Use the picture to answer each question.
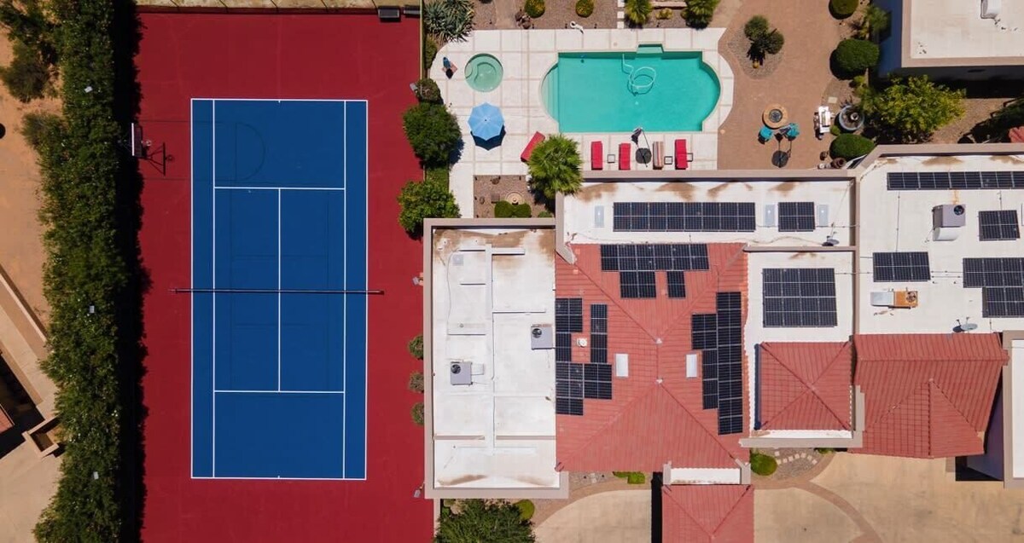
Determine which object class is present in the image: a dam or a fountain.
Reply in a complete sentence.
Visible in the photo is a fountain.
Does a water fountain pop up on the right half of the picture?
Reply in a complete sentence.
Yes, the scene does show a water fountain on the right half of the picture.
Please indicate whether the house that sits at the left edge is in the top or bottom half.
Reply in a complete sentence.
The house that sits at the left edge is in the bottom half of the image.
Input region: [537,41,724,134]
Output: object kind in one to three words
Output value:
swimming pool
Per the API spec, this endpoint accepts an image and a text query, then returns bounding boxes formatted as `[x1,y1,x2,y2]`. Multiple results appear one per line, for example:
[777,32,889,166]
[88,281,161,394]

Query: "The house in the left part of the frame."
[0,361,43,449]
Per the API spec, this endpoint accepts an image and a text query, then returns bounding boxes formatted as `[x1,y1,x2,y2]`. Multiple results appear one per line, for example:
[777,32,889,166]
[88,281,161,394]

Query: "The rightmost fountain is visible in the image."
[837,105,863,130]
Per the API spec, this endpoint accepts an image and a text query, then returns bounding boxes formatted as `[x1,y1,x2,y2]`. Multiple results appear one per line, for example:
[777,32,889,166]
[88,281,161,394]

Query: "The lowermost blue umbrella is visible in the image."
[467,103,505,140]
